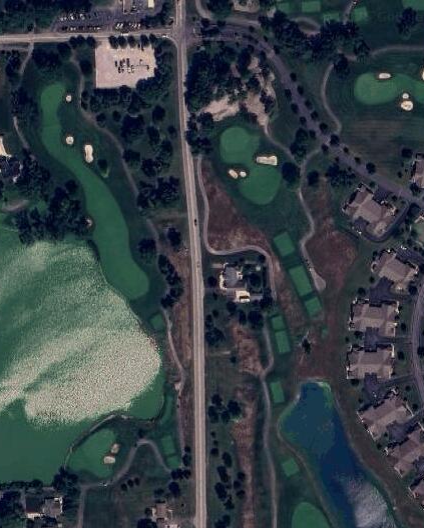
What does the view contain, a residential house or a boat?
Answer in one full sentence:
Looking from above, you can make out a residential house.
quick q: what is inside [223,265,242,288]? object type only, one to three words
house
